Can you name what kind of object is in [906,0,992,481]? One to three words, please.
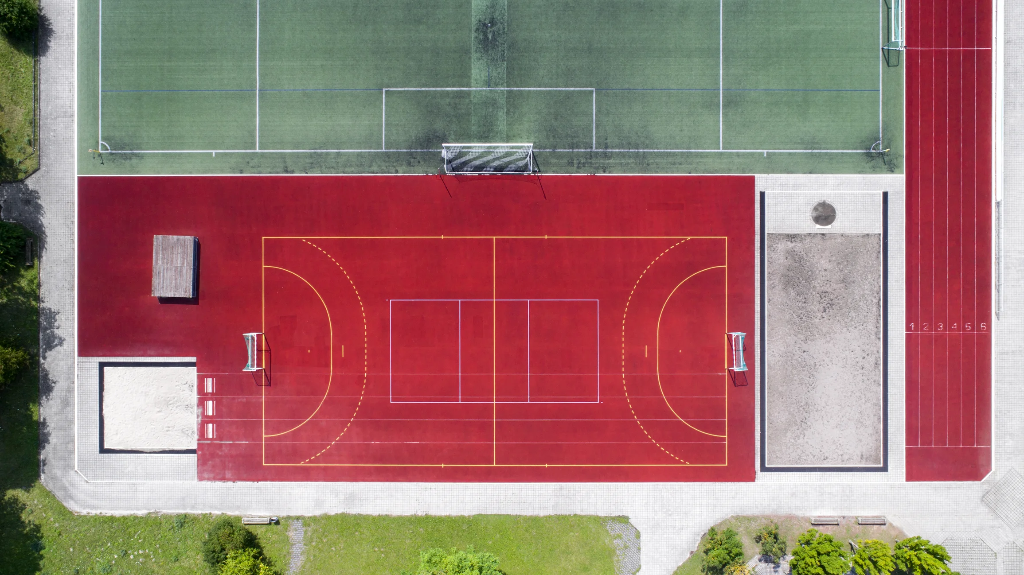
running track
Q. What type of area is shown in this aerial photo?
sports ground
